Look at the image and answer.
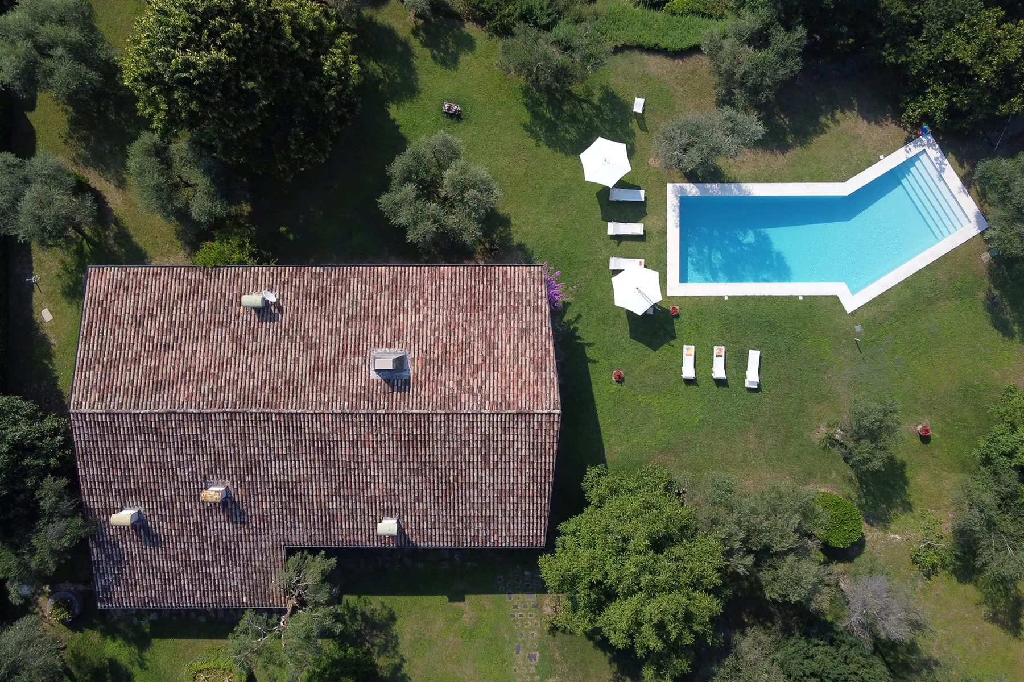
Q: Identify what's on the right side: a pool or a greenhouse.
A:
pool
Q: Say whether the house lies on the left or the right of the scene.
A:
left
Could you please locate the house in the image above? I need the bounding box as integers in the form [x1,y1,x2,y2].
[68,263,561,611]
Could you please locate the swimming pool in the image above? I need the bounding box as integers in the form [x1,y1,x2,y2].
[667,134,989,314]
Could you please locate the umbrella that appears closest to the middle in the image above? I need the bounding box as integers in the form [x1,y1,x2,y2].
[611,264,662,318]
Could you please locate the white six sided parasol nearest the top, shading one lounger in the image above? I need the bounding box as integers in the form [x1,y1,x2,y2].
[579,136,632,187]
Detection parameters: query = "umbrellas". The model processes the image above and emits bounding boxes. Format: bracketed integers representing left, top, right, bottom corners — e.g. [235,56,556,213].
[579,136,632,187]
[611,264,662,318]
